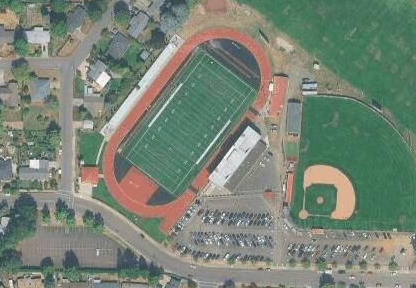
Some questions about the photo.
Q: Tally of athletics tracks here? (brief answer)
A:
1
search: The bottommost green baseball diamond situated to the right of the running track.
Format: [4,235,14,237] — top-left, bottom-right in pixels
[289,95,416,231]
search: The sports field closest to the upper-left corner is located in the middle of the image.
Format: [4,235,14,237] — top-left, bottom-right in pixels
[122,48,257,197]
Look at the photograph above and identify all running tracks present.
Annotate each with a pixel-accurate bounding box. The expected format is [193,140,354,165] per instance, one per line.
[112,35,271,235]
